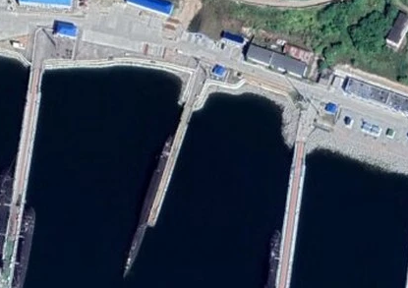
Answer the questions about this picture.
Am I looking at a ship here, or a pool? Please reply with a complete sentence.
Visible in the photo is a ship.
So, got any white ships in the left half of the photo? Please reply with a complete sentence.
No, there is no white ship in the left half of the photo.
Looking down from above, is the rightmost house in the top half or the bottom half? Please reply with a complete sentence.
Seen from above, the rightmost house lies in the top half of the view.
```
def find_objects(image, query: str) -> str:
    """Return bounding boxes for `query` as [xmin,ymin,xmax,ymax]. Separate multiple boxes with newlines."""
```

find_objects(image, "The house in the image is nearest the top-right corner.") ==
[386,12,408,46]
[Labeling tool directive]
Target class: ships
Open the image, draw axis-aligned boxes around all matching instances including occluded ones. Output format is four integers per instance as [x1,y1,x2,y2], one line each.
[124,136,173,278]
[263,229,281,288]
[13,207,36,288]
[0,172,13,253]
